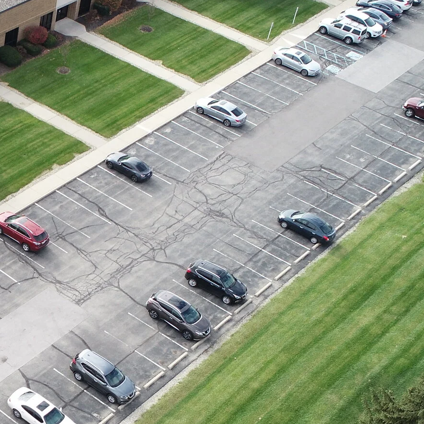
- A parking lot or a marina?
parking lot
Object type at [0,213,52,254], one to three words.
car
